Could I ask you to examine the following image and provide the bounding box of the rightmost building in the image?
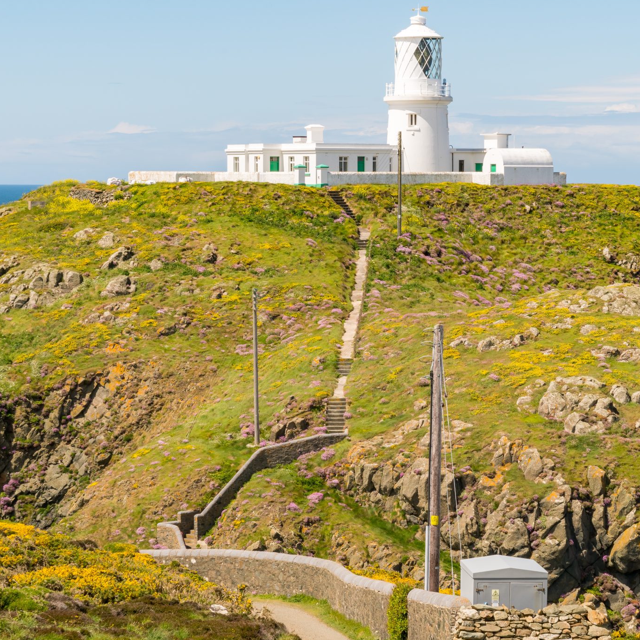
[484,145,556,185]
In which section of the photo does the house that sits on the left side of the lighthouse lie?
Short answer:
top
